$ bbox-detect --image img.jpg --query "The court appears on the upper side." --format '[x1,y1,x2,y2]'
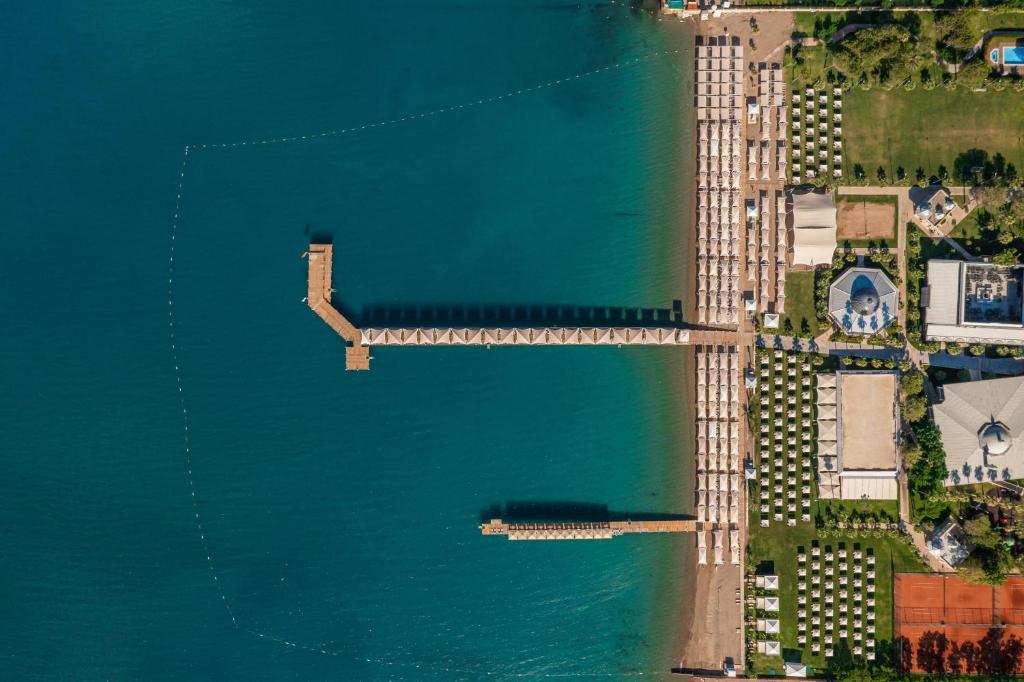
[838,200,895,239]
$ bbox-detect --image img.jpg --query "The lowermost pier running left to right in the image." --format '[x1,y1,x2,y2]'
[478,519,744,539]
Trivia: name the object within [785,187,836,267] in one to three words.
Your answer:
tent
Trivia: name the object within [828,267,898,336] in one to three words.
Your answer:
building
